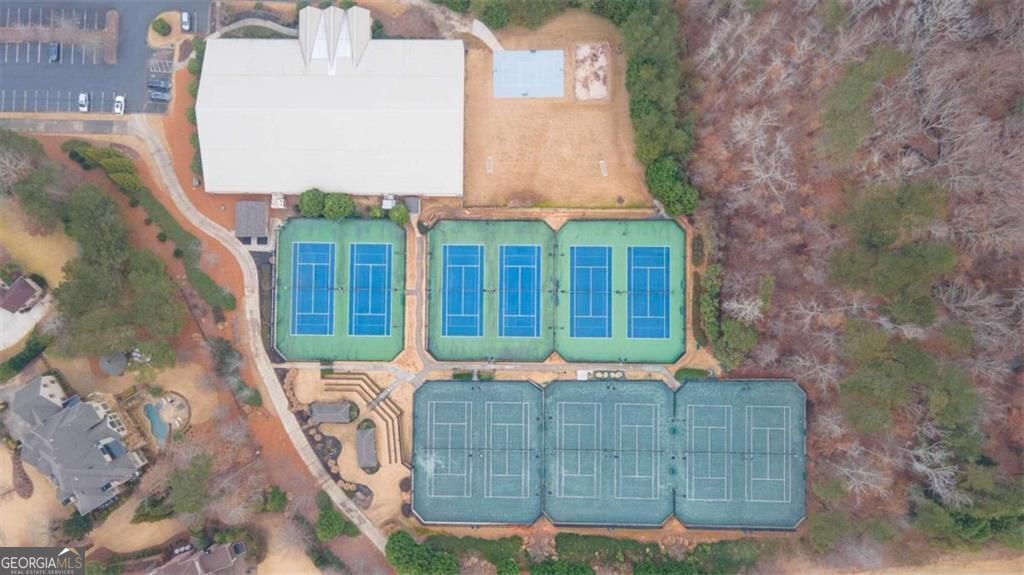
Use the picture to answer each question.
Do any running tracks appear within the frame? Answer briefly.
No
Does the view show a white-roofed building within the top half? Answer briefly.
Yes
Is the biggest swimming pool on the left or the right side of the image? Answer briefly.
left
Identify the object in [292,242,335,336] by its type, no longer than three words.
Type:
tennis court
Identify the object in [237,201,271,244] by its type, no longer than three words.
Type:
shed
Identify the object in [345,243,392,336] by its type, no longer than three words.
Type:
tennis court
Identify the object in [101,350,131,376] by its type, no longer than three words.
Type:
gazebo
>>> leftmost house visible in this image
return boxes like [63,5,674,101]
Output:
[0,274,51,318]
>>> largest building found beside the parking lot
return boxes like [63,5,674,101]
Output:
[195,5,463,197]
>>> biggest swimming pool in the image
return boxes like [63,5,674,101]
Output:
[144,401,170,443]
